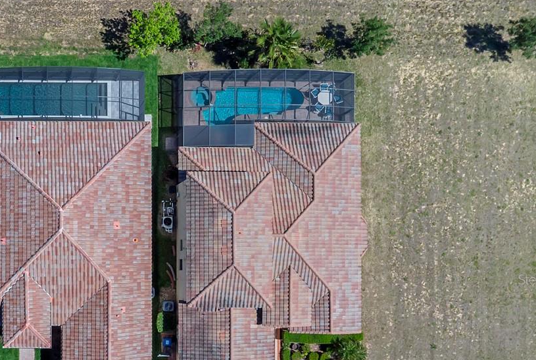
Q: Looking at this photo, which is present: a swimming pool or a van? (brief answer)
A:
swimming pool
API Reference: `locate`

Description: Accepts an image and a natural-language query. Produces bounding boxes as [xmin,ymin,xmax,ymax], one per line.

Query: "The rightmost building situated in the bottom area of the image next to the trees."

[174,122,367,360]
